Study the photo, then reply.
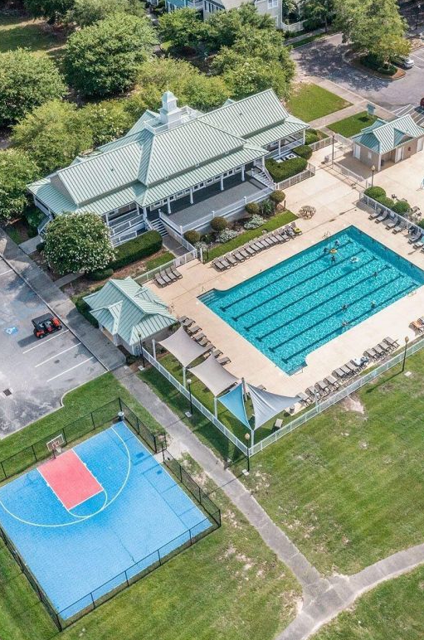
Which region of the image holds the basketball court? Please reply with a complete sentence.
The basketball court appears toward the bottom left of the photo.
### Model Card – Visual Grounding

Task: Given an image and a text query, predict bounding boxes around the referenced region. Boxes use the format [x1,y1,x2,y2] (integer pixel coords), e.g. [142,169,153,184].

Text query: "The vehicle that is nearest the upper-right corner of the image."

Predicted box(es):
[393,53,421,67]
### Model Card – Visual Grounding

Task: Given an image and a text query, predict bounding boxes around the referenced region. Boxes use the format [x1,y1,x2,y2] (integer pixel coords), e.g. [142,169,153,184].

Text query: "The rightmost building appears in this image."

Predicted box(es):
[341,110,424,171]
